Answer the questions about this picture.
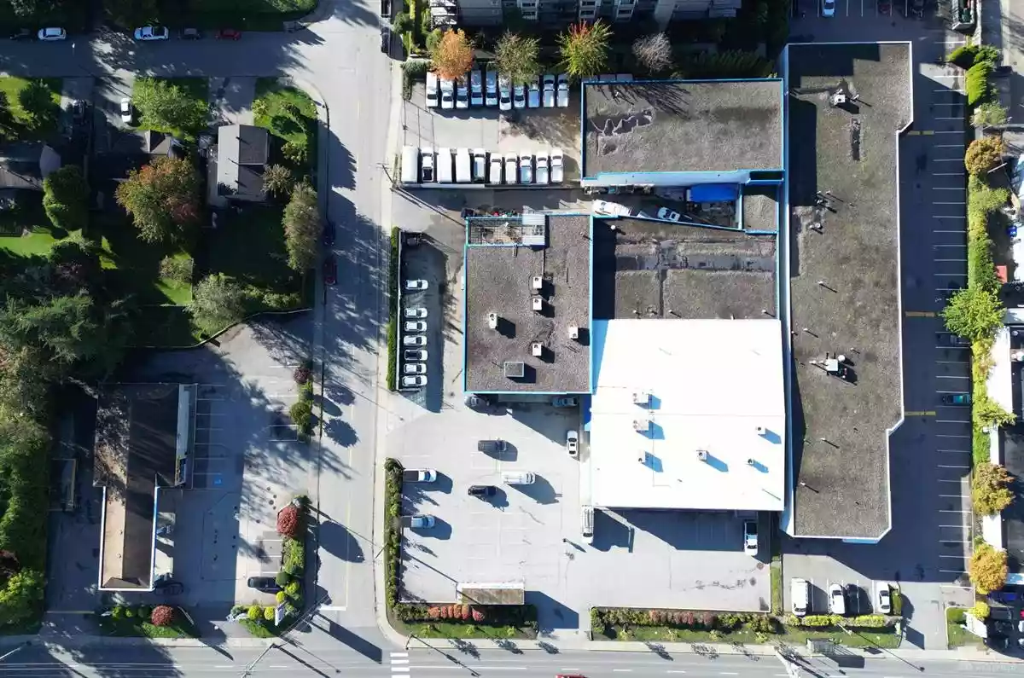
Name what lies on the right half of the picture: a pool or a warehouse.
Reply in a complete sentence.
Looking on the right half of the picture, you will find a warehouse.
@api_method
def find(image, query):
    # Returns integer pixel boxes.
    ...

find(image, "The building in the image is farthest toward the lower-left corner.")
[94,383,197,590]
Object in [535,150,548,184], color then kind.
white vehicle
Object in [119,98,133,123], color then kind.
white car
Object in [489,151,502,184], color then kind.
white vehicle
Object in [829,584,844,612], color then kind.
white car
